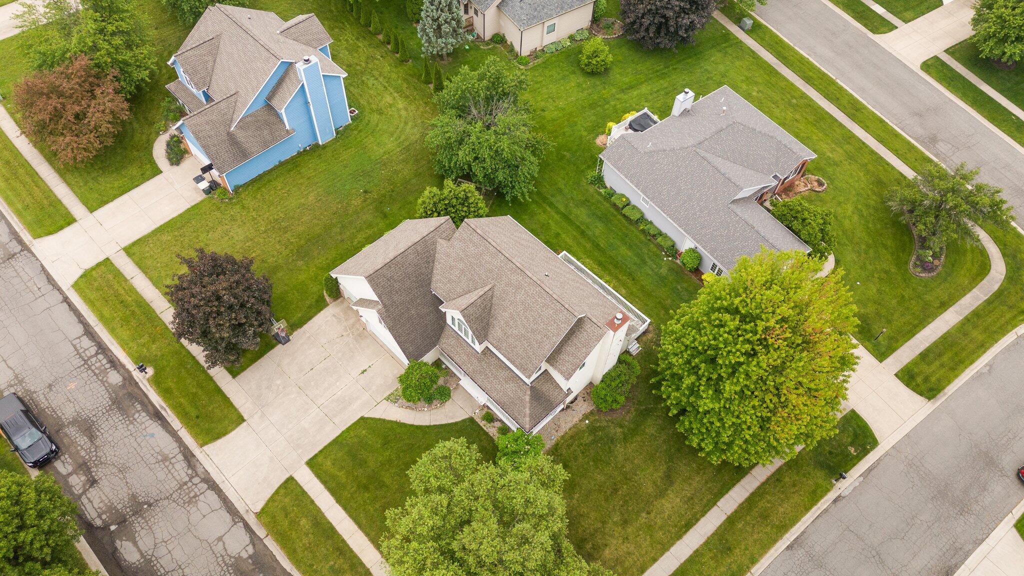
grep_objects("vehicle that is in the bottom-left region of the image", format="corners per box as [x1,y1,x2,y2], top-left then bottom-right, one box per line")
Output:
[0,391,56,467]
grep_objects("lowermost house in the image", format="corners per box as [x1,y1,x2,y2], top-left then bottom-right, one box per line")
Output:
[329,215,651,437]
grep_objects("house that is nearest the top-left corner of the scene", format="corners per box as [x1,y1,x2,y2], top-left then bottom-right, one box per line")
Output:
[164,2,353,192]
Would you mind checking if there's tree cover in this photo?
Yes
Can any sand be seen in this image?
No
